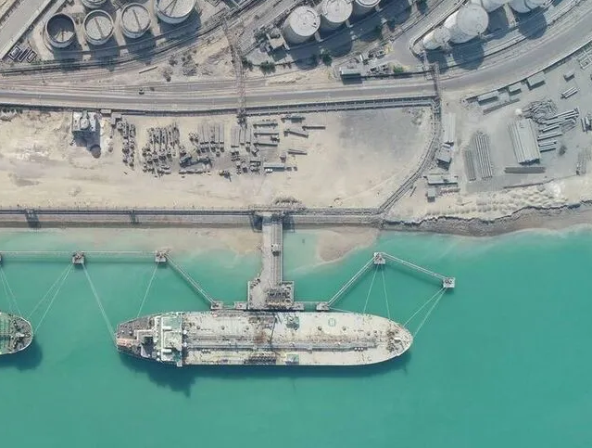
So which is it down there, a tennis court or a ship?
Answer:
ship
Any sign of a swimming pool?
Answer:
No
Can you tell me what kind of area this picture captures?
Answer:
industrial area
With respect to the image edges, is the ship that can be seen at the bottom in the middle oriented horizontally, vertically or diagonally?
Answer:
horizontally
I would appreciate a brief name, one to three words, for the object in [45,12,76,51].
storage tank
